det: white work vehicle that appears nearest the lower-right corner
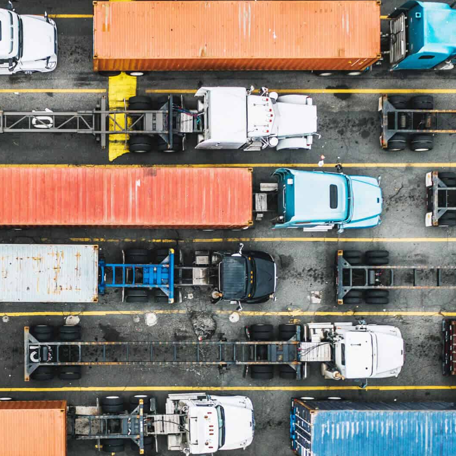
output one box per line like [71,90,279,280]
[244,318,403,388]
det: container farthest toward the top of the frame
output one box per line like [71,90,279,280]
[91,1,380,70]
